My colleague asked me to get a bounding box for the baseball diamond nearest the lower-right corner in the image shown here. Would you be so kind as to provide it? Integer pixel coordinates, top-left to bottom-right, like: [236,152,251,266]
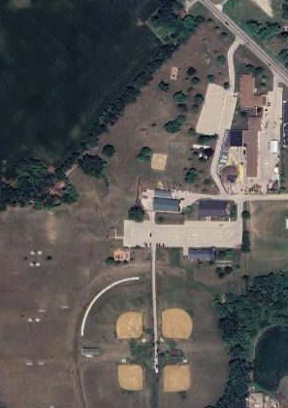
[164,365,190,393]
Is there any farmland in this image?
Yes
